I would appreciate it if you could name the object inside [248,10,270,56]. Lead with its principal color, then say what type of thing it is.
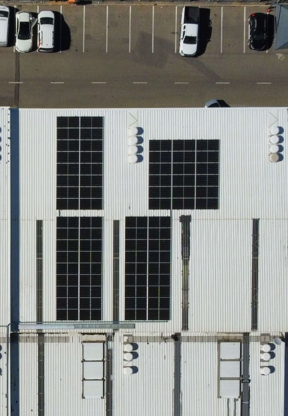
black car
